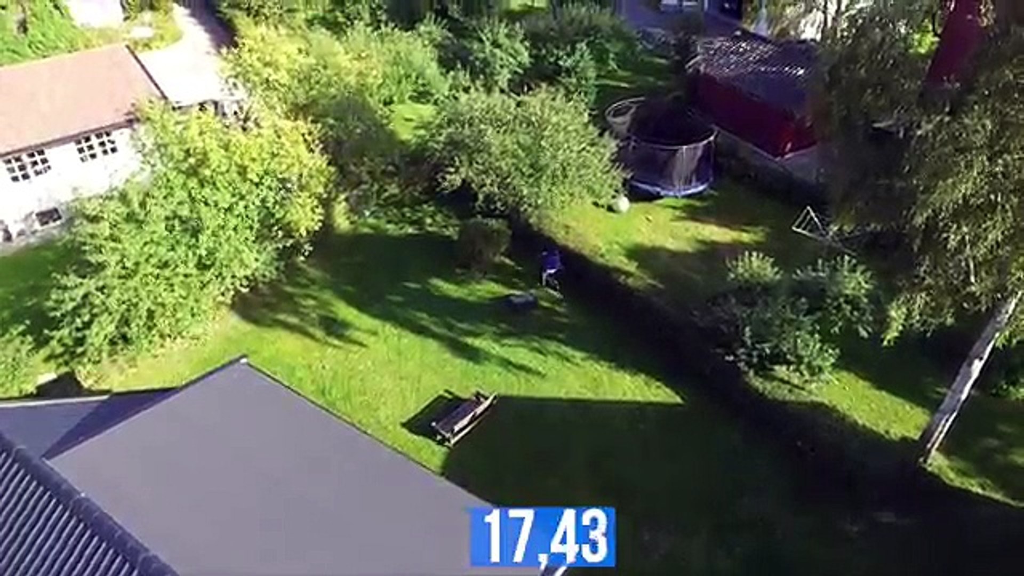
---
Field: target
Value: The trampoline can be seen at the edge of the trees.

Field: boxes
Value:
[629,107,721,195]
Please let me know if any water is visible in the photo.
No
